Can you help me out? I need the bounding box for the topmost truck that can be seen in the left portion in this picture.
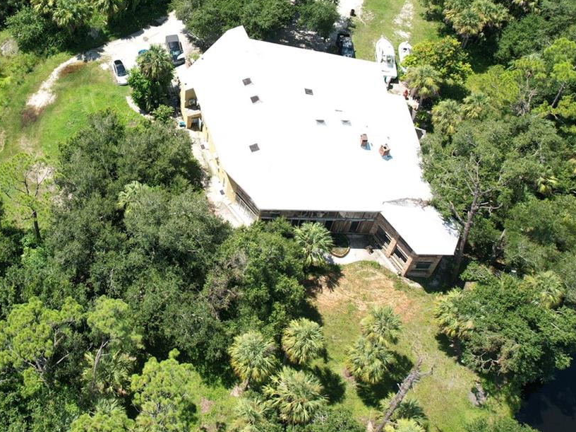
[164,35,189,64]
